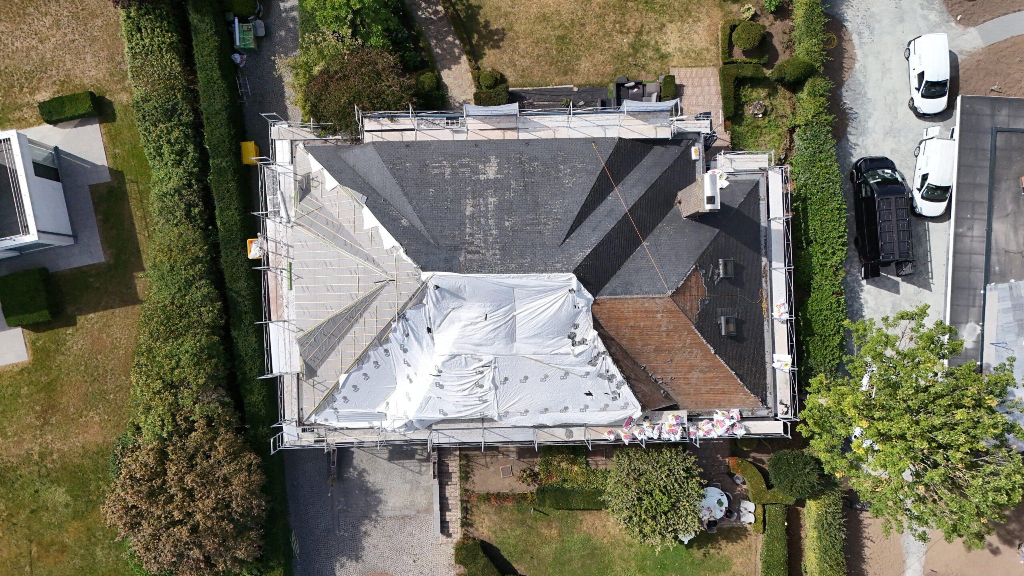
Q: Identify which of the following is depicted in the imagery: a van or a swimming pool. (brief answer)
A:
van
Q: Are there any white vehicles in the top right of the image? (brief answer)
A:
Yes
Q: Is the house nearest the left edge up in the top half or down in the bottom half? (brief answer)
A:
top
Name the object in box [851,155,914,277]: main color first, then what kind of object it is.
black van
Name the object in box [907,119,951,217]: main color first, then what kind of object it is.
white van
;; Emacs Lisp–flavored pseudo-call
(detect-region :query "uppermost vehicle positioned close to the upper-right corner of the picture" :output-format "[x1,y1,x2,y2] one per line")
[901,33,952,119]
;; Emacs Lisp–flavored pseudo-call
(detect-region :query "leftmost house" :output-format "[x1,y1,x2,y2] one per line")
[0,129,81,258]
